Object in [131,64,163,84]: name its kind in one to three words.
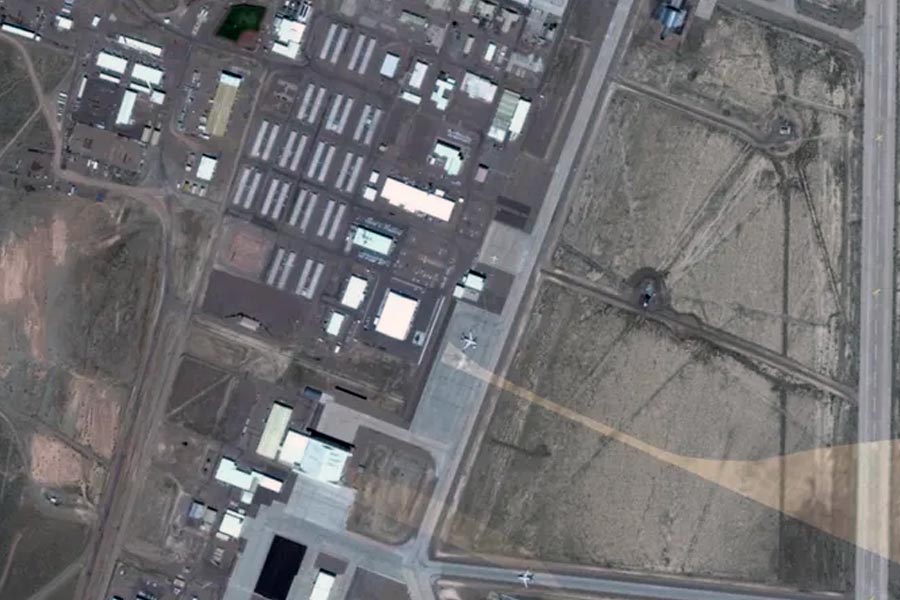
building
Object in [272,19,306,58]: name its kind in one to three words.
building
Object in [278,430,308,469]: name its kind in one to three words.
hangar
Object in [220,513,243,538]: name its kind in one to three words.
hangar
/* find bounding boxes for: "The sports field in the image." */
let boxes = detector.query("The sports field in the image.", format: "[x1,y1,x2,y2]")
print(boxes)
[217,4,265,41]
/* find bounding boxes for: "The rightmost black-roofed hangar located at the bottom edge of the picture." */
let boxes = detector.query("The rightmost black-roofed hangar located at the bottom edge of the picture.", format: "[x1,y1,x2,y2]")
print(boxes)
[255,535,308,600]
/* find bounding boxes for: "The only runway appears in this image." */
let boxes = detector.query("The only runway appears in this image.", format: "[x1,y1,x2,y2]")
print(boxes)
[856,0,898,600]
